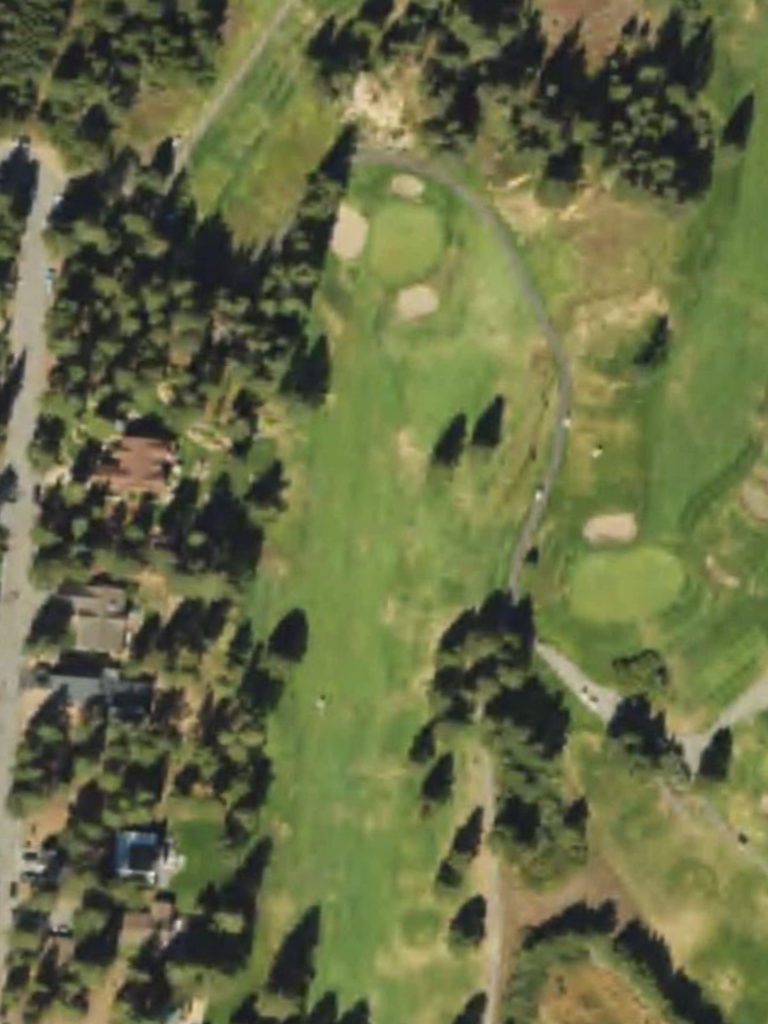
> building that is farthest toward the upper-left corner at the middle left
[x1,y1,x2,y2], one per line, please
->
[96,435,176,494]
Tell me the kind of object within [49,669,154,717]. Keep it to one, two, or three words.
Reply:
house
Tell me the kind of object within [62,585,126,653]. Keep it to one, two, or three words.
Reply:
house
